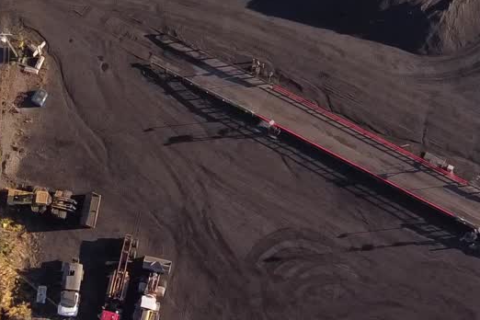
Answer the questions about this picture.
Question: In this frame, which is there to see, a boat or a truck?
truck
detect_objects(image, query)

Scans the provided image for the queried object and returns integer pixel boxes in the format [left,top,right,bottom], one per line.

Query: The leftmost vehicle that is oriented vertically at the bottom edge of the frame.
[56,258,84,320]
